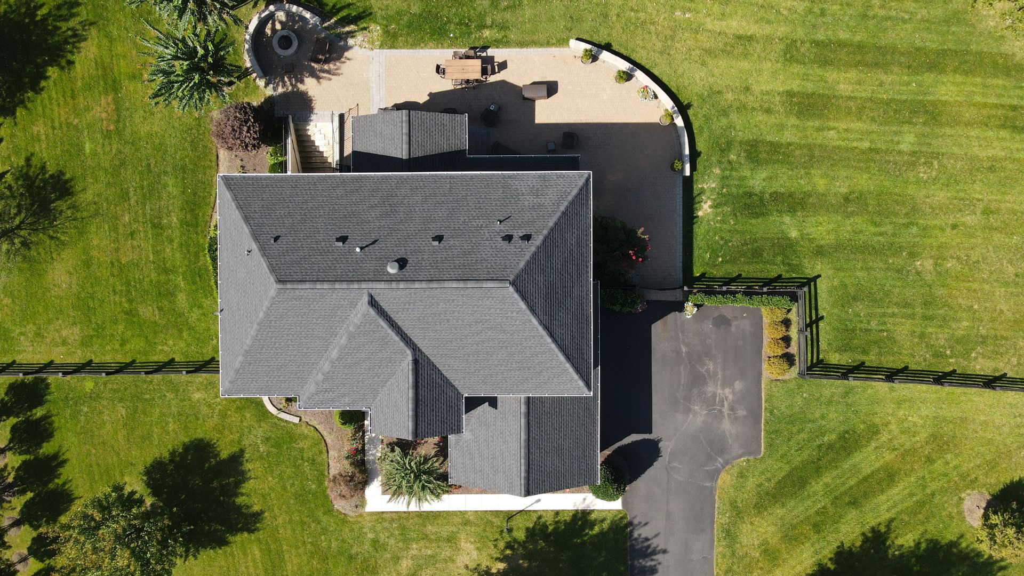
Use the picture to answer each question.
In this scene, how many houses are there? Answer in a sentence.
Just 1 house appears in this view.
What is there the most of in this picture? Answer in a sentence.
What you mostly see from above here is grass.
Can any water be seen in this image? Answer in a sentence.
No, there is no water in the image.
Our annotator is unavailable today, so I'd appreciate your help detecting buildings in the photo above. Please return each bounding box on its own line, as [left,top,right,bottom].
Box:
[209,109,601,496]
